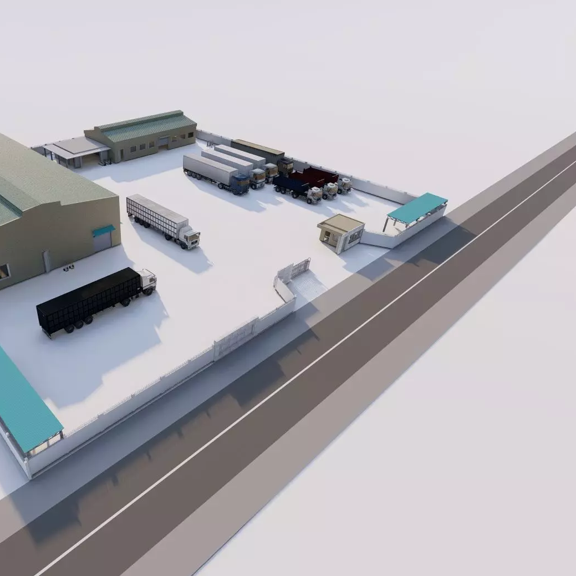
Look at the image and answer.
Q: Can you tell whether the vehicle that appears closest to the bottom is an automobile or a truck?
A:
truck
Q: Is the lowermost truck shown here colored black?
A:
Yes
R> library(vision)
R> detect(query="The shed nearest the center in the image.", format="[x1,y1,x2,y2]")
[314,214,365,255]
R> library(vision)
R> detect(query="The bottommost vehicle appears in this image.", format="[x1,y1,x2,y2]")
[36,267,158,339]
